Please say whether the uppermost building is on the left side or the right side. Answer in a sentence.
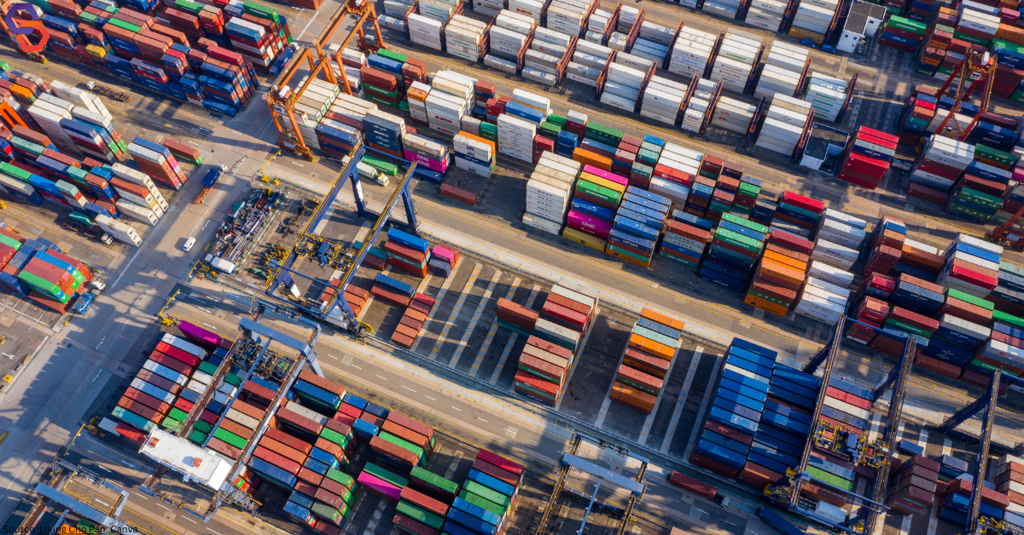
You can find the uppermost building on the right side of the picture.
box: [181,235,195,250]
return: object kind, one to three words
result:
vehicle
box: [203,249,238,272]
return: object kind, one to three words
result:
truck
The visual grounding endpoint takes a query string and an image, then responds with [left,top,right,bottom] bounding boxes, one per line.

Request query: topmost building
[836,0,887,53]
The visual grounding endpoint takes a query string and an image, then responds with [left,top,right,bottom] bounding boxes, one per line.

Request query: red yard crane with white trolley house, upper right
[918,43,1003,149]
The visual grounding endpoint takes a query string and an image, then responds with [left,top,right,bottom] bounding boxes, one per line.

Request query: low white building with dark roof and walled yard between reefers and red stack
[800,121,850,175]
